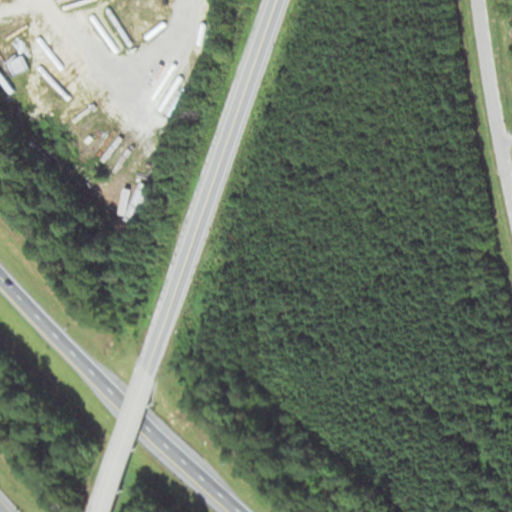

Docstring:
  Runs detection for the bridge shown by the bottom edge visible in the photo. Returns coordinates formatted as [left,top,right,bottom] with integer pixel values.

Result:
[84,363,161,512]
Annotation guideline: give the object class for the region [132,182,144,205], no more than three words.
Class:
vehicle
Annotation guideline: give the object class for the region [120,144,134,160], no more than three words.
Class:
vehicle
